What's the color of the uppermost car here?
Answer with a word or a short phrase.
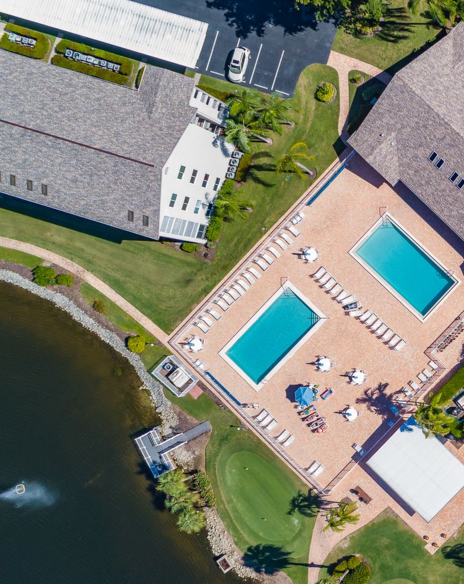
white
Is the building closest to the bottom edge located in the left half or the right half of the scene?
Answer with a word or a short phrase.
right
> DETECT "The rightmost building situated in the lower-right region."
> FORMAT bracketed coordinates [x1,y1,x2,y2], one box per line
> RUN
[365,417,464,523]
